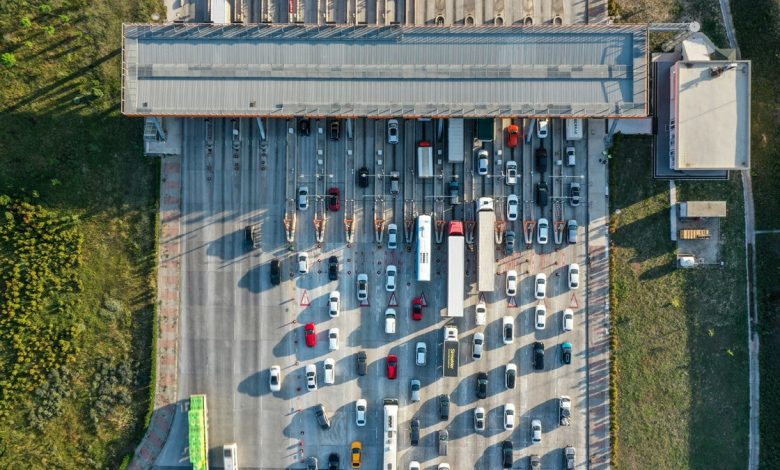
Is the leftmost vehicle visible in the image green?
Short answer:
Yes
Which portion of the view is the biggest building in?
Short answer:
top right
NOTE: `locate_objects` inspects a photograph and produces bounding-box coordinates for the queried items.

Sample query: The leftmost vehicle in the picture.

[189,393,209,470]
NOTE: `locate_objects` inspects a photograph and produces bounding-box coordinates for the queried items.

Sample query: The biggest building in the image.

[654,39,752,180]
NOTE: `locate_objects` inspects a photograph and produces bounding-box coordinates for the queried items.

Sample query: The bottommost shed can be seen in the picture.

[676,200,727,217]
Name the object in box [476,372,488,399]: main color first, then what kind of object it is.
black vehicle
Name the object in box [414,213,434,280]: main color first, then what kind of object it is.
white vehicle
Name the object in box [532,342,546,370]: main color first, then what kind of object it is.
black vehicle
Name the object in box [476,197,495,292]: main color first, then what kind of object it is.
white vehicle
